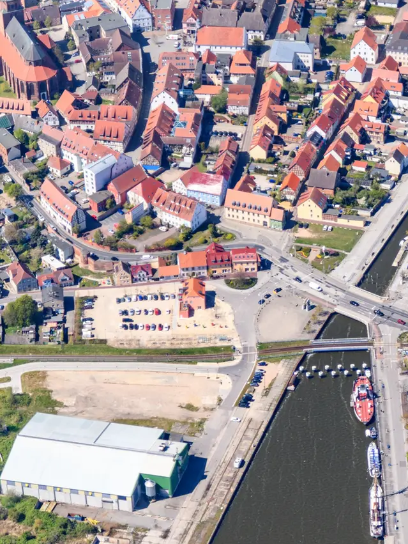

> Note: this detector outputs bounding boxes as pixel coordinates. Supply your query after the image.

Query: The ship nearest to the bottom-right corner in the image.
[369,470,384,544]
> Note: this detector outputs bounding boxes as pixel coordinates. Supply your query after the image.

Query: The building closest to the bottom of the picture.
[0,425,181,509]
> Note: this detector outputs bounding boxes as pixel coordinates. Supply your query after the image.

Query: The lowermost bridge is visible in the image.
[303,334,379,353]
